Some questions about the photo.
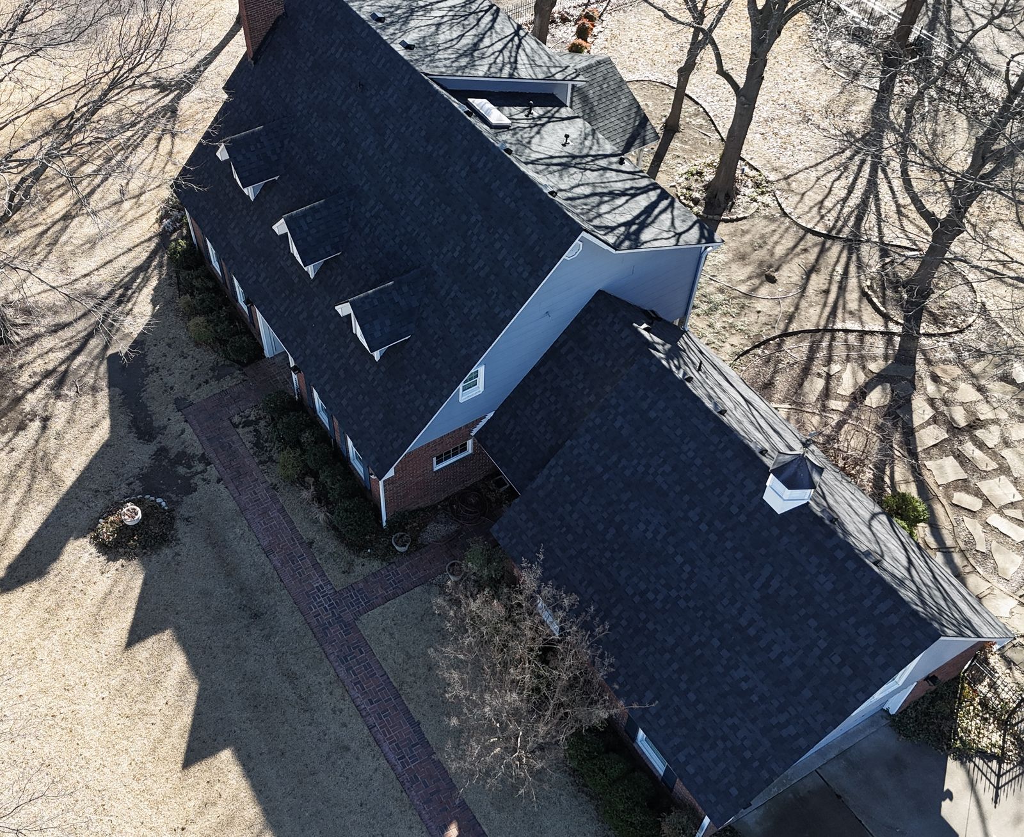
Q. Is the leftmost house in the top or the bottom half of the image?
top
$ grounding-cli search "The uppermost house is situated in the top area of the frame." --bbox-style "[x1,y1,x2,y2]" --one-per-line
[171,0,722,528]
